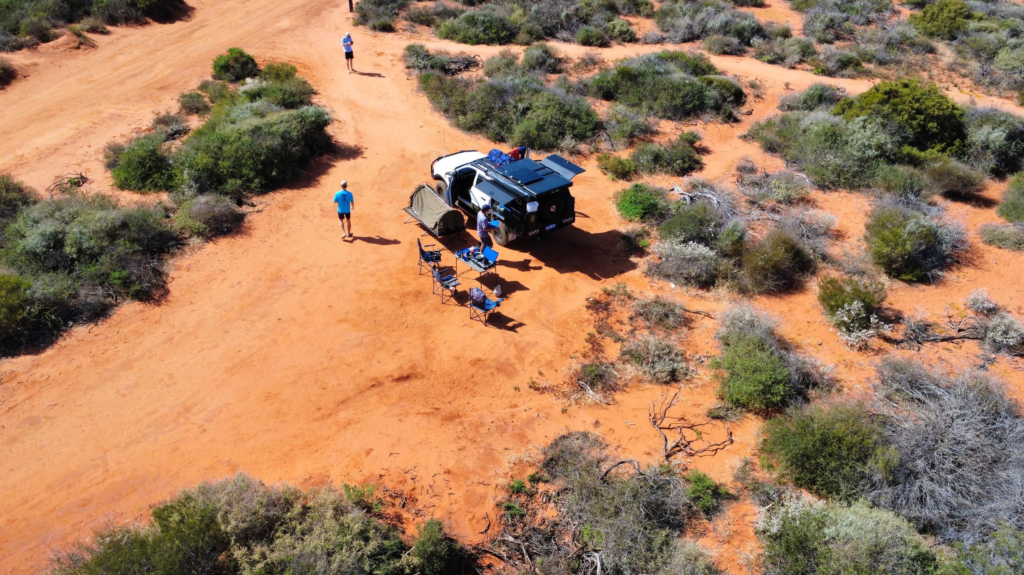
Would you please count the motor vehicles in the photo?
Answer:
1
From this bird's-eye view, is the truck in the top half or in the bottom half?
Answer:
top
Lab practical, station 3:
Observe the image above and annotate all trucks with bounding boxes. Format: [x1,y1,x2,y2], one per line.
[429,127,584,249]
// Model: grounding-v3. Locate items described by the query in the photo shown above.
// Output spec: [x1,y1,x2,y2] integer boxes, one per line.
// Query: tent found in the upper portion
[402,180,466,247]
